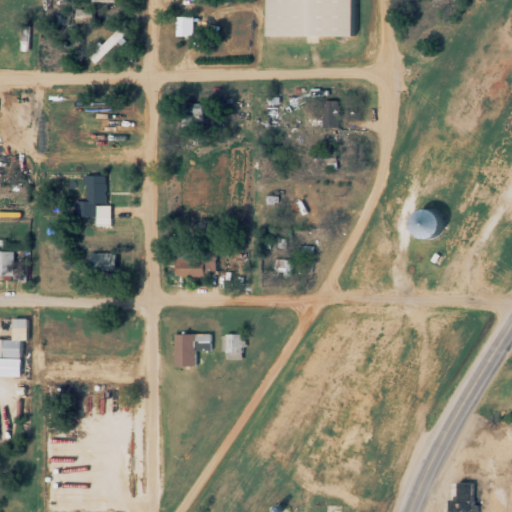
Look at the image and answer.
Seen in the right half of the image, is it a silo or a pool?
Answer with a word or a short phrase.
silo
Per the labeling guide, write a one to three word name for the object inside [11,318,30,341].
barn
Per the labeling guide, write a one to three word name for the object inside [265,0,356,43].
building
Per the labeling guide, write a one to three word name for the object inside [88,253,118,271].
house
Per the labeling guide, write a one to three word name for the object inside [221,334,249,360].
house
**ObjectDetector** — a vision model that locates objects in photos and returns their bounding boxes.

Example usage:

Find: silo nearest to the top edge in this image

[408,208,445,240]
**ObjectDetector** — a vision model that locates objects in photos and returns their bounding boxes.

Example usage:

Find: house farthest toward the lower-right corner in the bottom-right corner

[448,482,483,512]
